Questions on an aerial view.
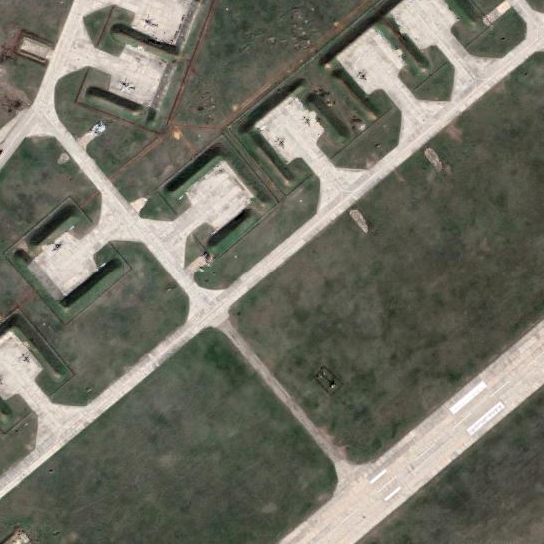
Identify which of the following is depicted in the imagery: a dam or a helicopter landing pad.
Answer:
helicopter landing pad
